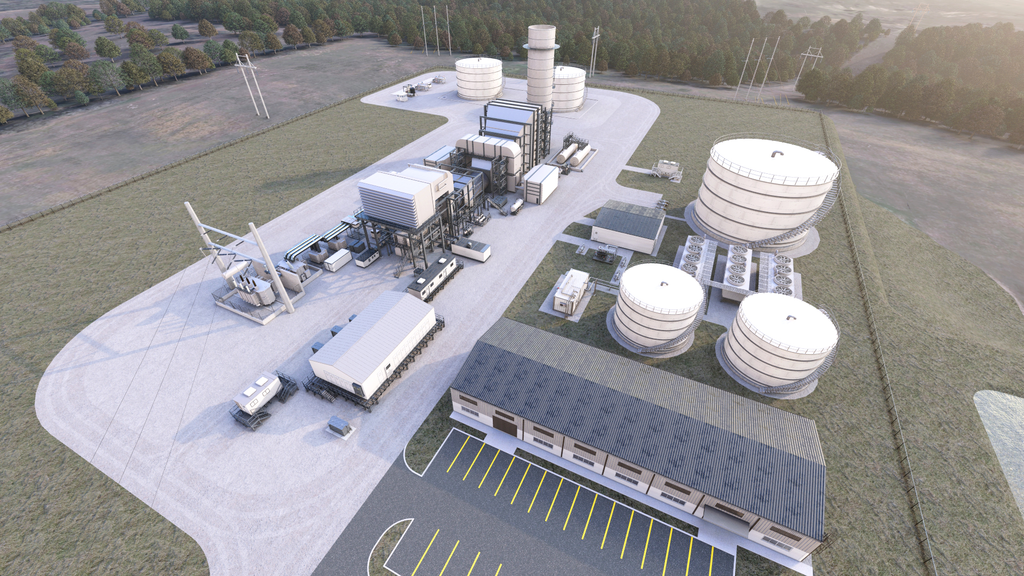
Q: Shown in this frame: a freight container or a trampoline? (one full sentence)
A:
Visible in the photo is a freight container.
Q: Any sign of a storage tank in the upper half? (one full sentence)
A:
Yes, in the upper half there is a storage tank.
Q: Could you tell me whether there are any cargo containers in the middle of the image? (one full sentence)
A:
Yes, a cargo container shows up in the middle of the image.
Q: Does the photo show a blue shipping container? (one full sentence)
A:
No, I can see no blue shipping container in this picture.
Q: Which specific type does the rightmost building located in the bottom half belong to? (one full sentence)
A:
It looks like the rightmost building located in the bottom half is a warehouse.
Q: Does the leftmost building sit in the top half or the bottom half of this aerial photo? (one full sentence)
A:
The leftmost building sits in the bottom half of the picture.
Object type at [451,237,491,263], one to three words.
shipping container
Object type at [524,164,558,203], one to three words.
house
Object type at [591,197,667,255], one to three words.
building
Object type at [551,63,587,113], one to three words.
storage tank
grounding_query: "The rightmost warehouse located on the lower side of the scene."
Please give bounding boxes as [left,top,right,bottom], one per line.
[451,316,831,564]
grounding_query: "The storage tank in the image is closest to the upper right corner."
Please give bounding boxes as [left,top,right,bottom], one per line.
[692,135,840,248]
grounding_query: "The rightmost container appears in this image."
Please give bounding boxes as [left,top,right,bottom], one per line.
[554,268,590,311]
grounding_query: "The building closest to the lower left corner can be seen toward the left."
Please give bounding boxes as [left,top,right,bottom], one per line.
[231,370,284,417]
